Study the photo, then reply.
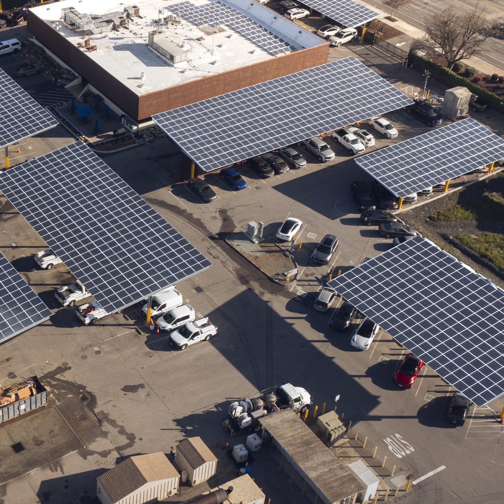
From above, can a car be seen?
Yes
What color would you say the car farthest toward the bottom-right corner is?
black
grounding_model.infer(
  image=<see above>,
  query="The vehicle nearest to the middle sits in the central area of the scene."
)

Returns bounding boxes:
[271,217,304,243]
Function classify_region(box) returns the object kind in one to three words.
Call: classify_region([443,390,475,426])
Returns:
car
